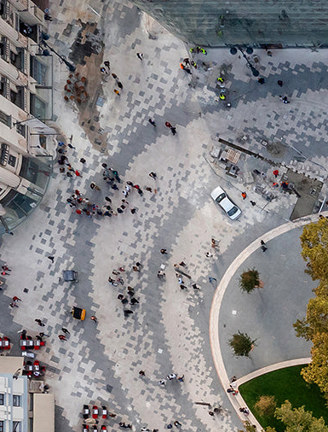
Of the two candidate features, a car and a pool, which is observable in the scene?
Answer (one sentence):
The image shows a car.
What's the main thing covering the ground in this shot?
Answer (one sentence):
Most of the picture is covered by paved ground.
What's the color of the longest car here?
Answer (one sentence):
The longest car is white.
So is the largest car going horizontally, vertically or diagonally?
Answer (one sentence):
I'd say the largest car is aligned diagonally in the picture.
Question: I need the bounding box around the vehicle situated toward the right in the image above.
[210,184,245,223]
